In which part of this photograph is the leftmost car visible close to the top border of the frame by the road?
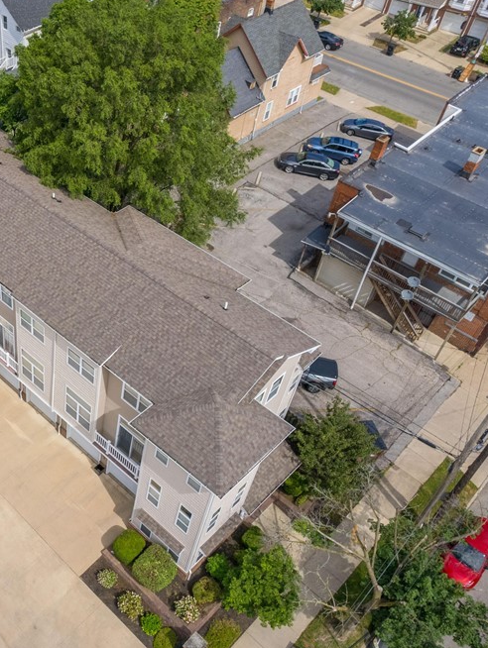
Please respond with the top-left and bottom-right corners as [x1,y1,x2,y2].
[317,26,345,48]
